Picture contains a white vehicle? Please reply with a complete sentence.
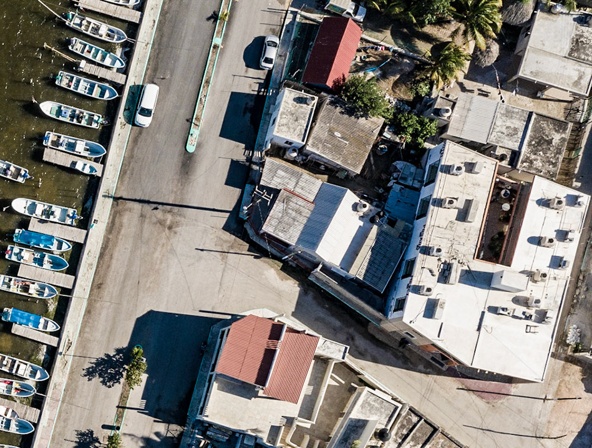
Yes, the photo shows a white vehicle.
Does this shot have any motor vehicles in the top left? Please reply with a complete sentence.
Yes, a motor vehicle can be seen in the top left.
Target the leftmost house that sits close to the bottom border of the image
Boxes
[197,315,350,448]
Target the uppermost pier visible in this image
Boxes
[77,0,143,25]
